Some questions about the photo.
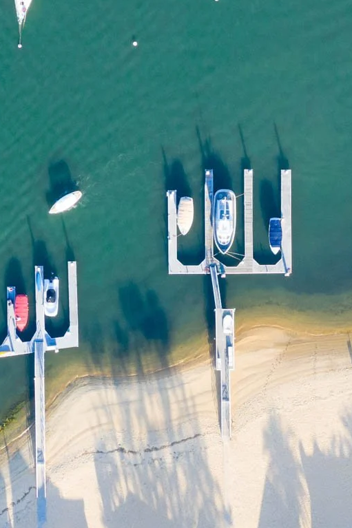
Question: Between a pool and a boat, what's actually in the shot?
boat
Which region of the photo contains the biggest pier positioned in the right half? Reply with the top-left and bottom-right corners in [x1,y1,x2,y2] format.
[167,168,293,274]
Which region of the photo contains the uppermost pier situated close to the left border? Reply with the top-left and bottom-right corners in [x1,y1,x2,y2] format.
[0,260,79,358]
